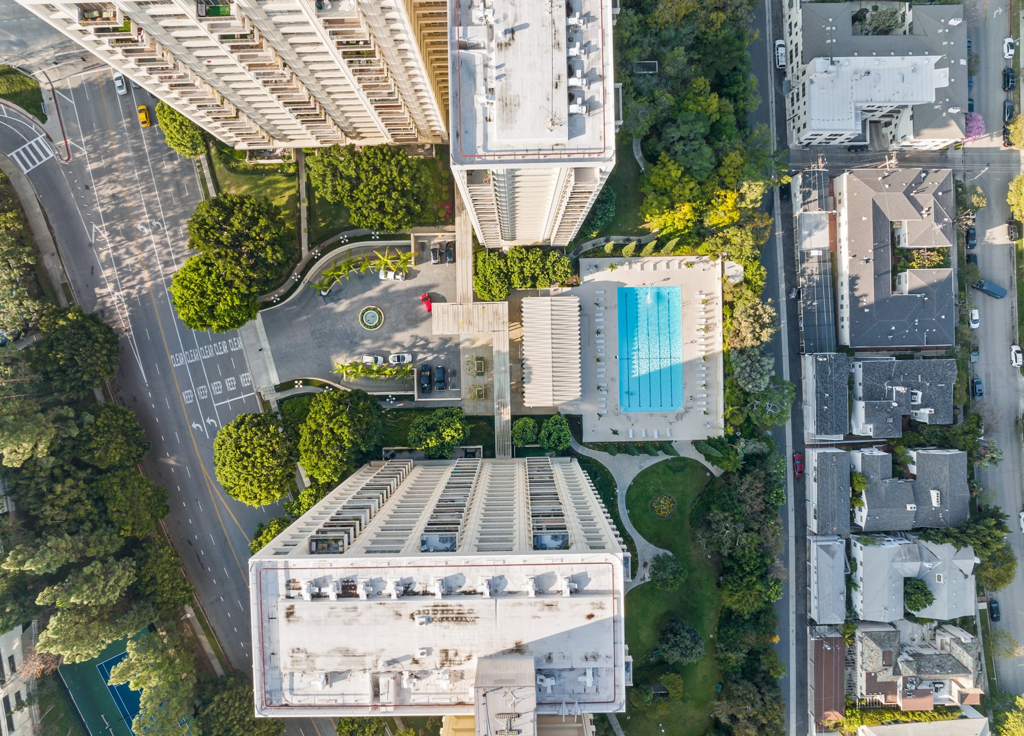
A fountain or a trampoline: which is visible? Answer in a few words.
fountain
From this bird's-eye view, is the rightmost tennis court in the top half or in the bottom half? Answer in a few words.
bottom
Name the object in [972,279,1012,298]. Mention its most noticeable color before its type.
blue vehicle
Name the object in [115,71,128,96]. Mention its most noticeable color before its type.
white vehicle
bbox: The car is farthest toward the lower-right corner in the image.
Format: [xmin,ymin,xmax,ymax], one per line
[987,598,1000,622]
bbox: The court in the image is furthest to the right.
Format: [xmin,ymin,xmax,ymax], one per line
[96,647,188,736]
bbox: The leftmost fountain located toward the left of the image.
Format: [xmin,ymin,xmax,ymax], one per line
[358,305,384,331]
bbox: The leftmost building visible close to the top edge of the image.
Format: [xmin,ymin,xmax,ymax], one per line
[31,0,626,253]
